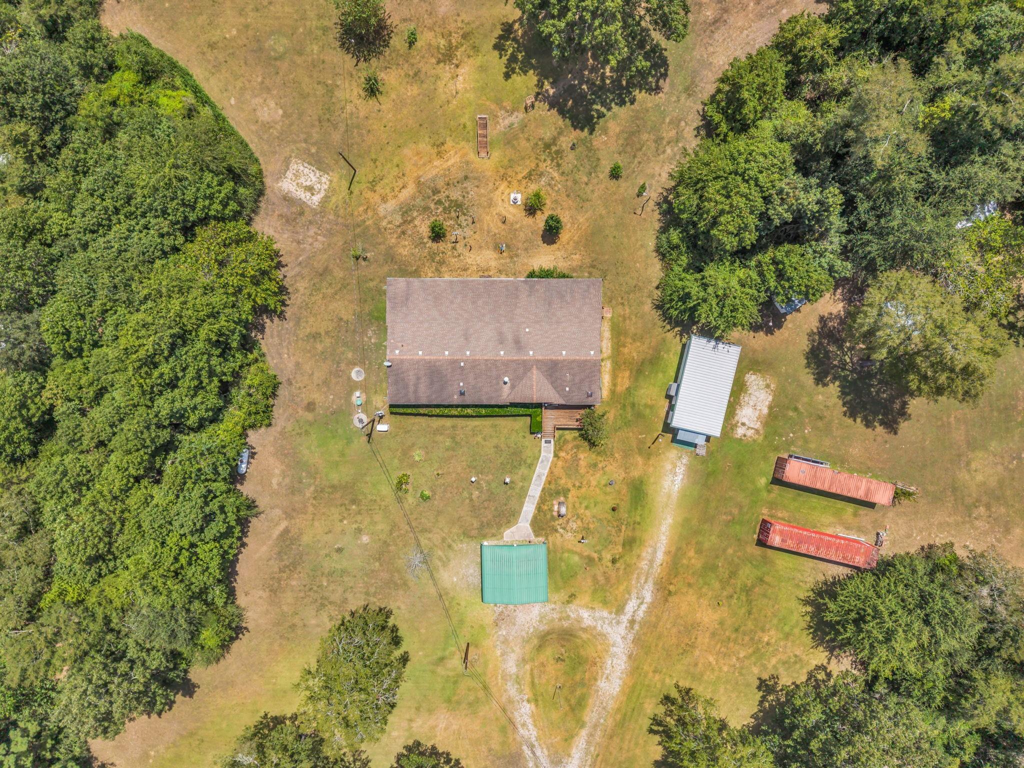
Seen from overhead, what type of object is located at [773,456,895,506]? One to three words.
shipping container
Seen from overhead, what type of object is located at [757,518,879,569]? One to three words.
shipping container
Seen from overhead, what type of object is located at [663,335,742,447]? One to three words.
building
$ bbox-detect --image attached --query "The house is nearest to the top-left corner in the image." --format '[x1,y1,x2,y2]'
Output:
[383,278,603,405]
